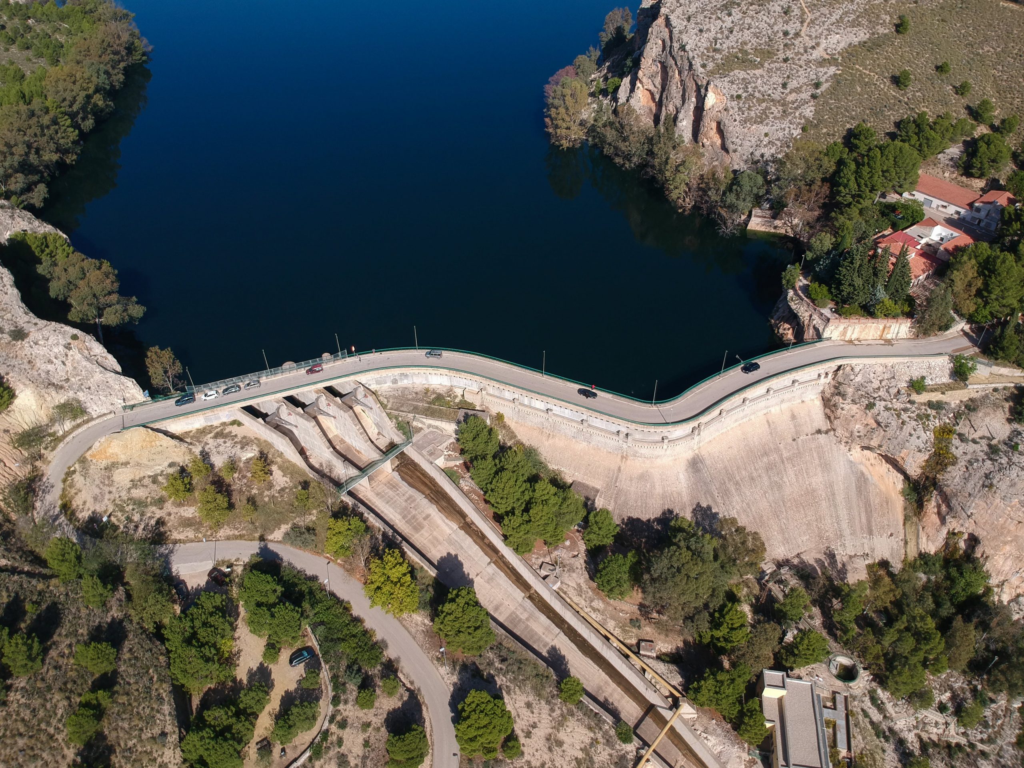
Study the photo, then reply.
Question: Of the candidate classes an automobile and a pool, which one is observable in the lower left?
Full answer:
The feature located in the lower left is an automobile.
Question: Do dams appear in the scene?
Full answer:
Yes, the picture does show a dam.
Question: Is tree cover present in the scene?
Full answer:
Yes, the picture does contain tree cover.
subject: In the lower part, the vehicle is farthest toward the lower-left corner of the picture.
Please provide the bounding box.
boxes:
[175,579,189,599]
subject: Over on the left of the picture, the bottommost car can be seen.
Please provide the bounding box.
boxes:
[288,645,315,665]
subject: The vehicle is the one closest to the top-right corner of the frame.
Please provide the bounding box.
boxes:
[743,360,759,372]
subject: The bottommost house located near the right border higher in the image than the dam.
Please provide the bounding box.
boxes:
[873,216,974,290]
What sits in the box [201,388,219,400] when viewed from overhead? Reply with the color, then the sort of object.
white vehicle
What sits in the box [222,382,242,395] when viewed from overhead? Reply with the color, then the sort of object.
gray vehicle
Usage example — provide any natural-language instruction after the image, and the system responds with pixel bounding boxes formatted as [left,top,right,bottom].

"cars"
[201,388,219,400]
[175,579,189,599]
[222,382,242,395]
[208,567,228,584]
[288,645,315,665]
[244,378,262,389]
[175,392,195,405]
[743,360,759,372]
[578,386,597,399]
[426,348,443,358]
[307,362,324,374]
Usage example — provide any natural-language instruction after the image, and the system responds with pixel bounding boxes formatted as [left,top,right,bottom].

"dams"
[125,357,937,588]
